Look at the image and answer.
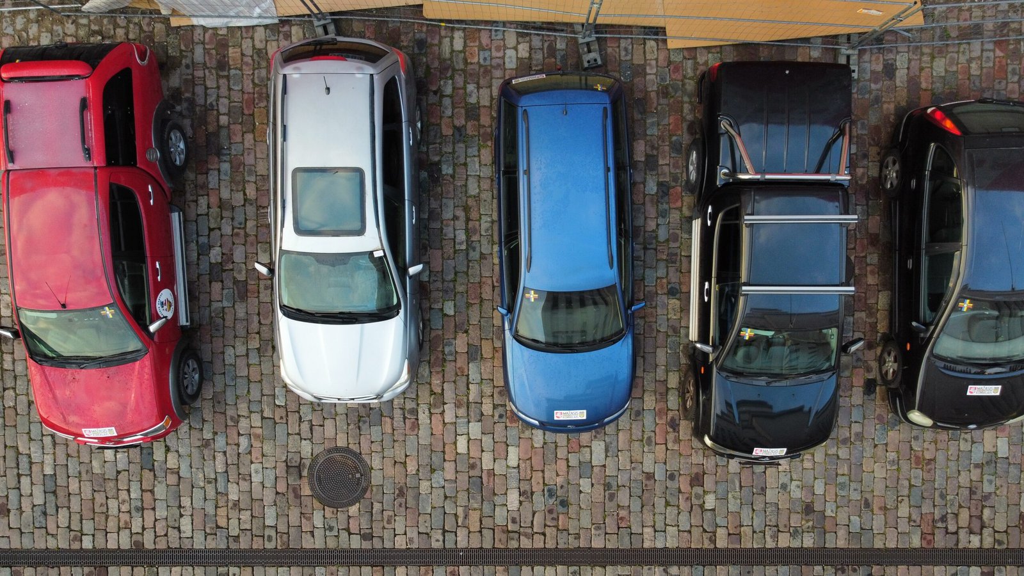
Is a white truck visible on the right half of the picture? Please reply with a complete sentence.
No, no white truck appears on the right half of the picture.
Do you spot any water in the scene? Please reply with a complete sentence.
No, the scene doesn't show any water.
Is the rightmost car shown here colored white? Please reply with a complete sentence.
No, the rightmost car is black.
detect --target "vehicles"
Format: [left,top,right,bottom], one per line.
[252,34,428,408]
[0,41,205,454]
[881,97,1024,433]
[492,64,647,434]
[687,61,868,465]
